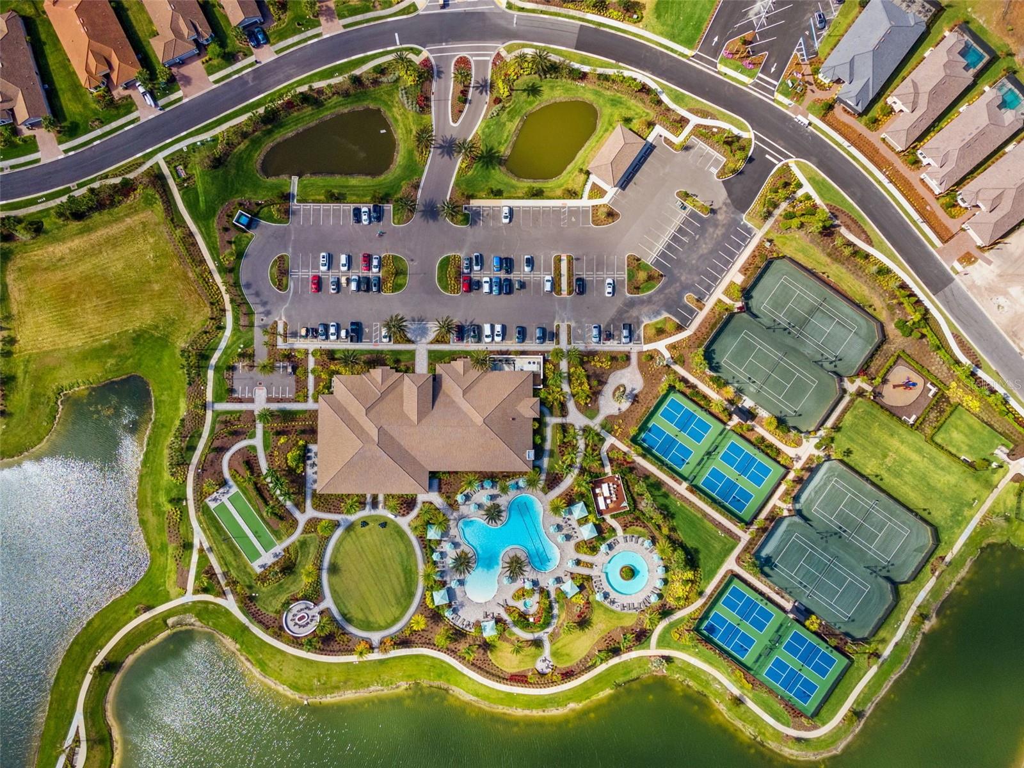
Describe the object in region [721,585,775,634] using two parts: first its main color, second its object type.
blue sports court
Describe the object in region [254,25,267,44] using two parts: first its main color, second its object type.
blue vehicle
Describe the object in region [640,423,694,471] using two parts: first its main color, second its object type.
blue sports court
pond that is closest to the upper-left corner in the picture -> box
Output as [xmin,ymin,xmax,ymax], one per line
[259,107,398,179]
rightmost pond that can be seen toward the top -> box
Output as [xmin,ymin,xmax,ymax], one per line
[506,100,598,180]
